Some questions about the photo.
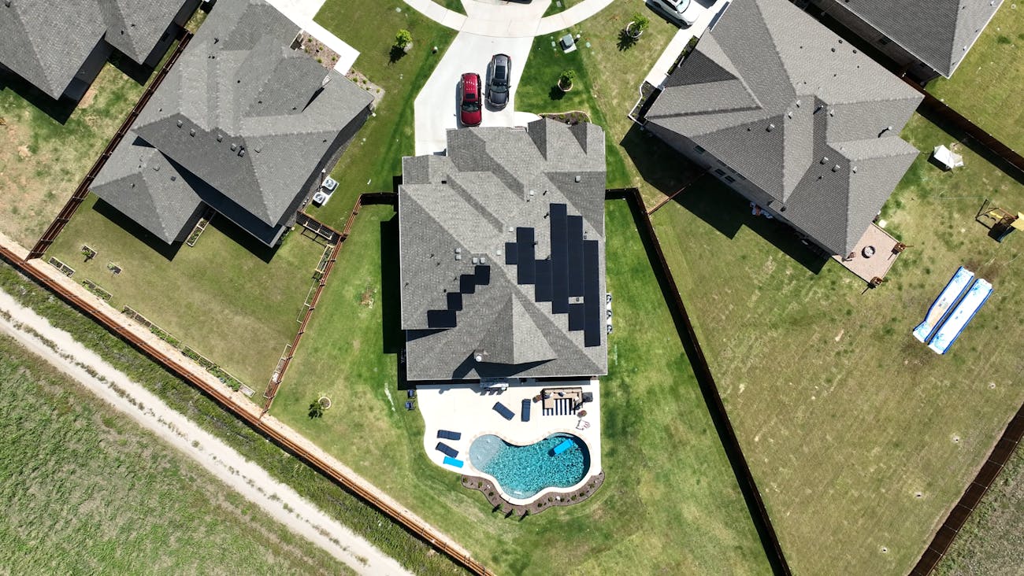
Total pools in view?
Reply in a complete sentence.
In total, there is 1 pool in the scene.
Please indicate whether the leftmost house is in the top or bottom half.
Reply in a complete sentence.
The leftmost house is in the top half of the image.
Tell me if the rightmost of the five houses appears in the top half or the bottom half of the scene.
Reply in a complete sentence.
You can find the rightmost of the five houses in the top half.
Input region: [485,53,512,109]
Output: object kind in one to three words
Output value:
car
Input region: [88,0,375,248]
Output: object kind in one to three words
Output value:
house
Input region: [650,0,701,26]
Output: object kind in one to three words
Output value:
car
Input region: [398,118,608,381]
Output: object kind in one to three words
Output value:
house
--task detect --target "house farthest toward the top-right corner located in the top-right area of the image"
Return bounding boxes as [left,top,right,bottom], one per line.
[811,0,1004,81]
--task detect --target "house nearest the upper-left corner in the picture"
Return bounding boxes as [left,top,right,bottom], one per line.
[0,0,198,102]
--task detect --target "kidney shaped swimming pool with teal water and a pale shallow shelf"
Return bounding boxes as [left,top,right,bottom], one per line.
[467,429,594,503]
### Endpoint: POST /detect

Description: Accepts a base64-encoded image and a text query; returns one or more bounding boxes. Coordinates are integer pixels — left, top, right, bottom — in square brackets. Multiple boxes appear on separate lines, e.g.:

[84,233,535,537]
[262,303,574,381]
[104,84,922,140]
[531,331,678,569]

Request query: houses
[88,0,375,248]
[398,118,608,381]
[0,0,198,102]
[644,0,925,260]
[811,0,1004,81]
